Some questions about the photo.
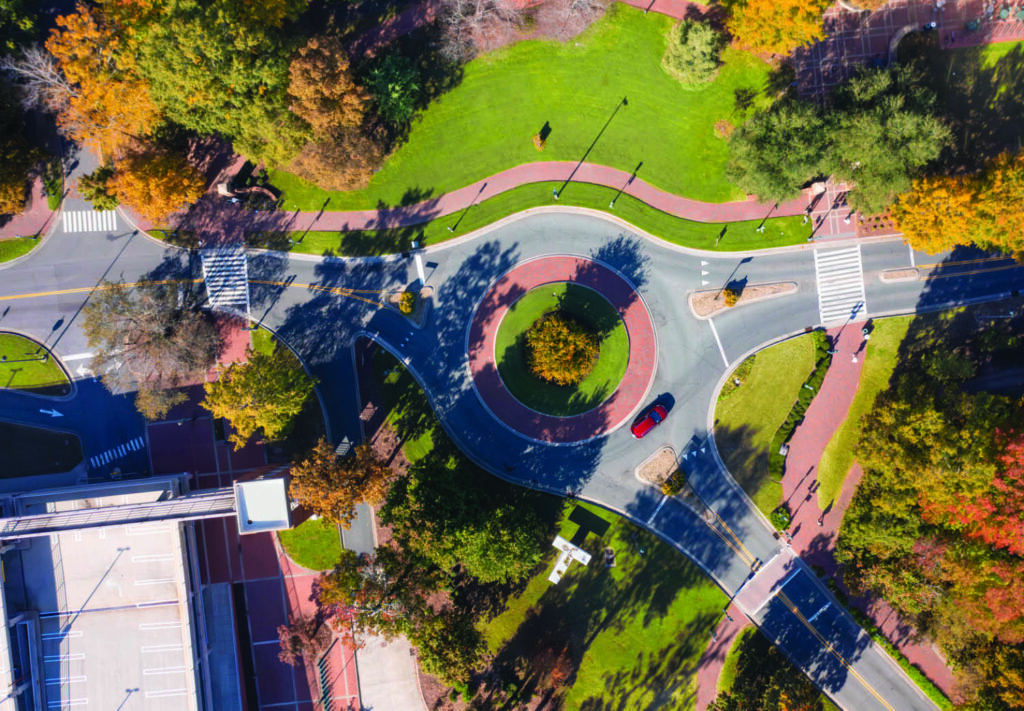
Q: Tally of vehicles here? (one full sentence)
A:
Just 1 vehicle appears in this view.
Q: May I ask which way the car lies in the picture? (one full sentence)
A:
I'd say the car is aligned diagonally in the picture.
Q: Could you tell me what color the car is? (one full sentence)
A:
The color of the car is red.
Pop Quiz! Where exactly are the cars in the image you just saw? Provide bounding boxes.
[631,406,667,440]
